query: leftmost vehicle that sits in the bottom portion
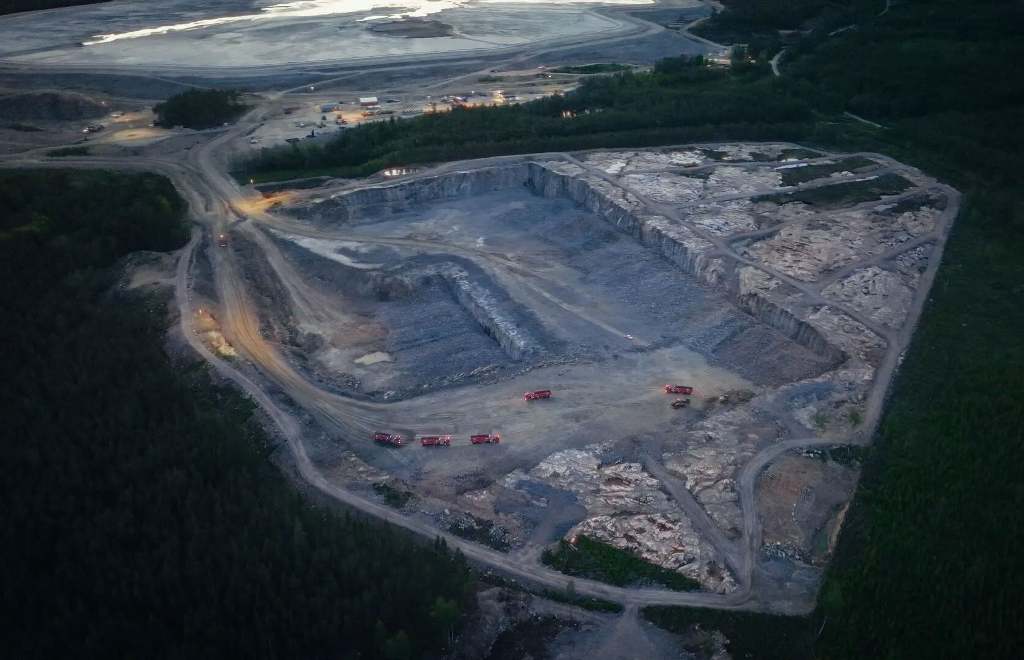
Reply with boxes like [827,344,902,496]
[372,431,400,445]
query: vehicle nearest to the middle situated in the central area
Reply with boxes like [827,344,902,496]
[526,389,551,401]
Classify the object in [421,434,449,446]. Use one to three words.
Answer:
vehicle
